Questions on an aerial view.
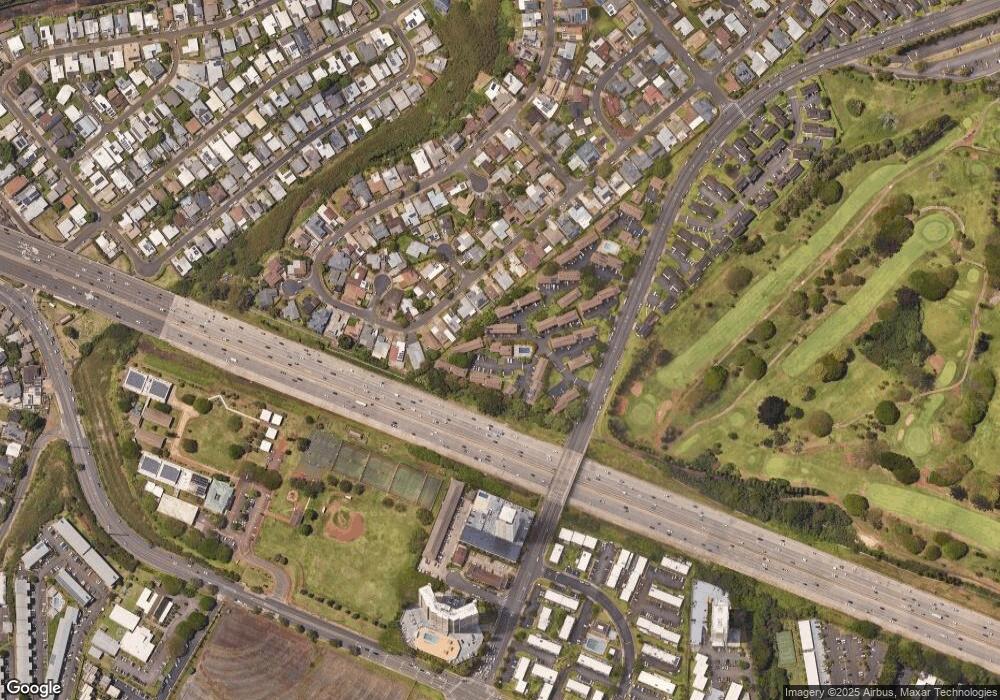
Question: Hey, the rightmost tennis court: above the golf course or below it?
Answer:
below it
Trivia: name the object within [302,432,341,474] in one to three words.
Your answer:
basketball court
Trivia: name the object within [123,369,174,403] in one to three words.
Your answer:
building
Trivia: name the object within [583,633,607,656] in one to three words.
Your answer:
swimming pool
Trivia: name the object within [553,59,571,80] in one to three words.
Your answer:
house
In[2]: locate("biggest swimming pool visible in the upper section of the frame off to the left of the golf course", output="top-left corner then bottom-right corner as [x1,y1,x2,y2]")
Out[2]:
[598,238,618,256]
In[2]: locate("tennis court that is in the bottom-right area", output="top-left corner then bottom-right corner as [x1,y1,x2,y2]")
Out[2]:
[776,630,797,664]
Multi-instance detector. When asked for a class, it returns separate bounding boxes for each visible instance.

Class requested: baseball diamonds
[325,498,365,542]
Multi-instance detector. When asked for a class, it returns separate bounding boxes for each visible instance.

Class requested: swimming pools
[517,345,531,356]
[598,238,618,256]
[583,633,607,656]
[424,633,439,644]
[49,593,64,611]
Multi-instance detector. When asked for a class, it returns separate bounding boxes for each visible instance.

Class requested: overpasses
[538,436,590,514]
